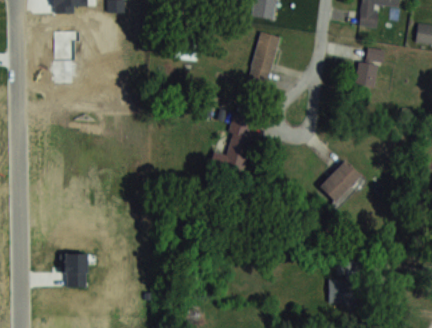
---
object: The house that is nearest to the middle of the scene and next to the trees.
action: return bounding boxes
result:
[212,122,250,169]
